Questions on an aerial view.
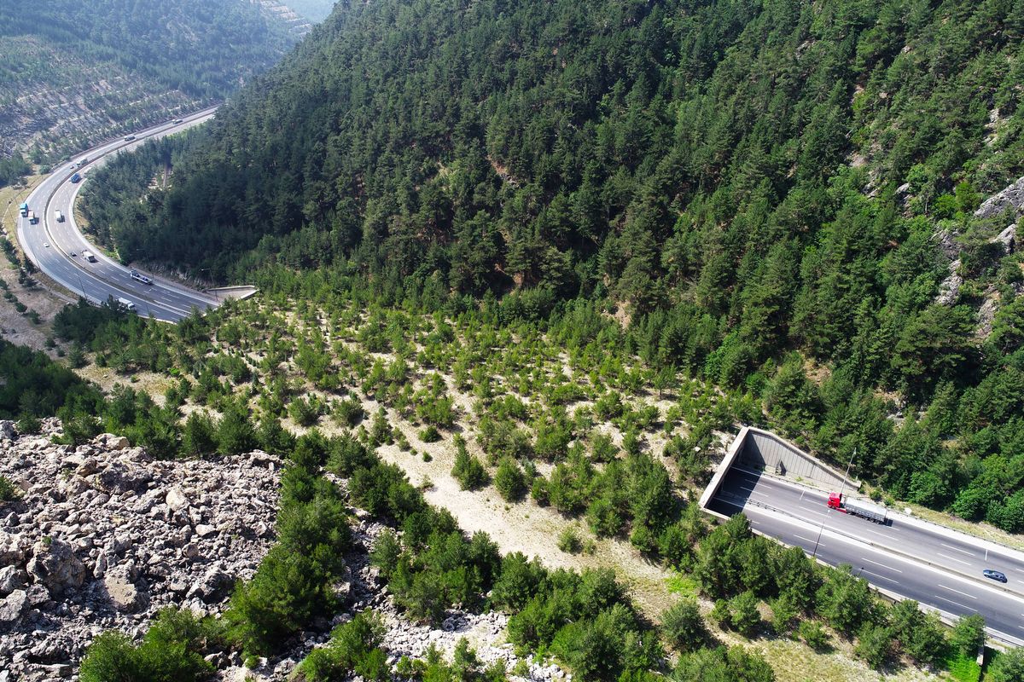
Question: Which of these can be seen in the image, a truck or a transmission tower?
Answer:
truck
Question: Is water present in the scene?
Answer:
No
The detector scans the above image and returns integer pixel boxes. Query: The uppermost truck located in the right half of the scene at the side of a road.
[831,492,892,524]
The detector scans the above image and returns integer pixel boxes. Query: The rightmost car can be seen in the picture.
[985,570,1009,584]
